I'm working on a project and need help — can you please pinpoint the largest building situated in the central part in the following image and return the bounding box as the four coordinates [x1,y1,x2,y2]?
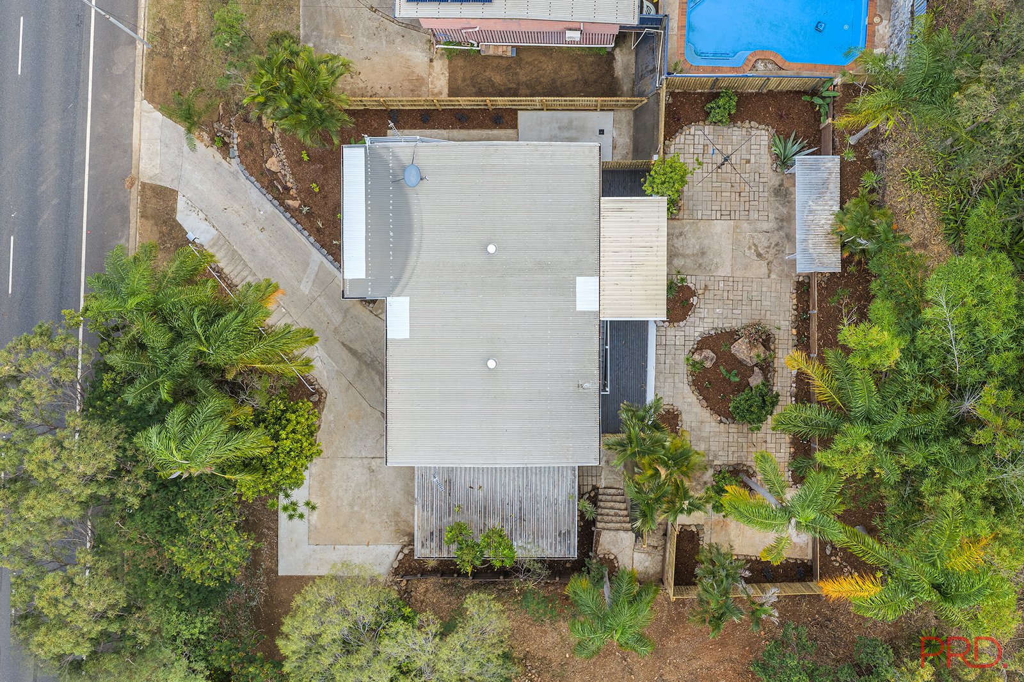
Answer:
[340,135,603,468]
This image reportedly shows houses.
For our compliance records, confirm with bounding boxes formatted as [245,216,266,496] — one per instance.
[395,0,642,48]
[340,135,603,468]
